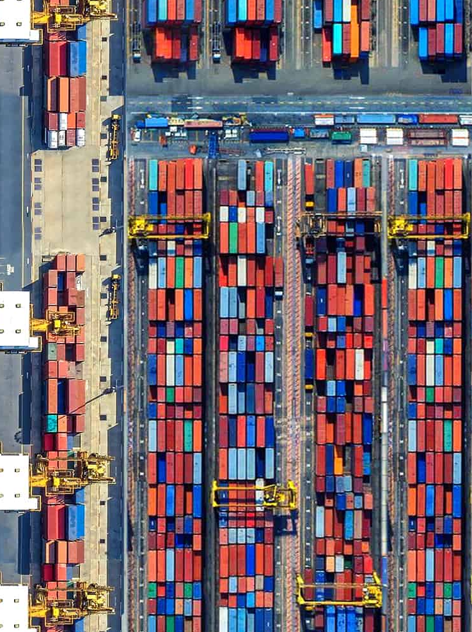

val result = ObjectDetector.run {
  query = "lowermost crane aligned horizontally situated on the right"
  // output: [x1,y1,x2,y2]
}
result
[289,575,385,604]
